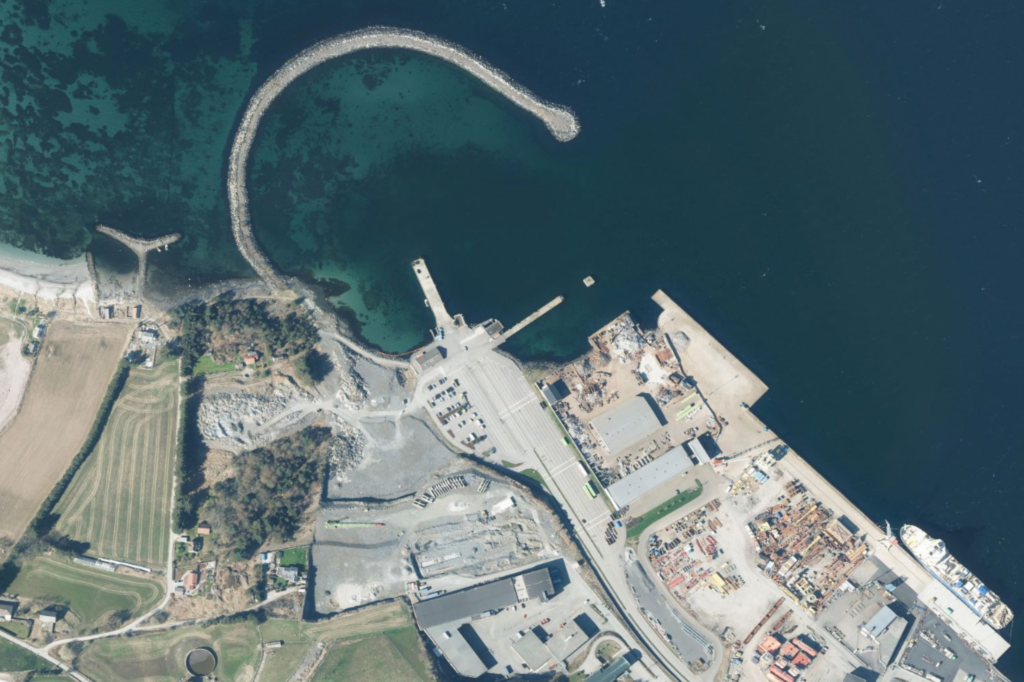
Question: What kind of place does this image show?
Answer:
port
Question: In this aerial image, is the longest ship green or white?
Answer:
white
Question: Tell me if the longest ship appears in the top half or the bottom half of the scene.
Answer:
bottom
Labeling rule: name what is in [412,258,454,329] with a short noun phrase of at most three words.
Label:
pier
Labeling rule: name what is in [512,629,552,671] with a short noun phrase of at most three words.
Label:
building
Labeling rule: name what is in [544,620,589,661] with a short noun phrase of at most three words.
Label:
building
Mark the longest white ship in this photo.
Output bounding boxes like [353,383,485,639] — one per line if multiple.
[882,524,1014,644]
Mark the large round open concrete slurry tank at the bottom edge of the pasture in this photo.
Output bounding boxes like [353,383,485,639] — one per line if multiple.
[186,648,216,682]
